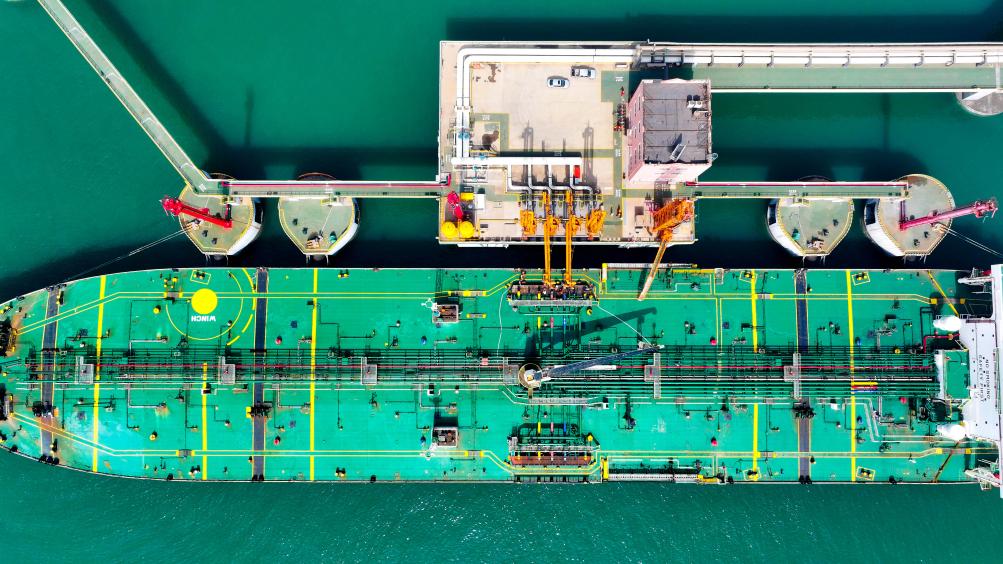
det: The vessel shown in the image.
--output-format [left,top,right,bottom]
[0,262,1003,498]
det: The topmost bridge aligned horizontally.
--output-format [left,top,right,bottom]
[637,41,1003,94]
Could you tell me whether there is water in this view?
Yes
